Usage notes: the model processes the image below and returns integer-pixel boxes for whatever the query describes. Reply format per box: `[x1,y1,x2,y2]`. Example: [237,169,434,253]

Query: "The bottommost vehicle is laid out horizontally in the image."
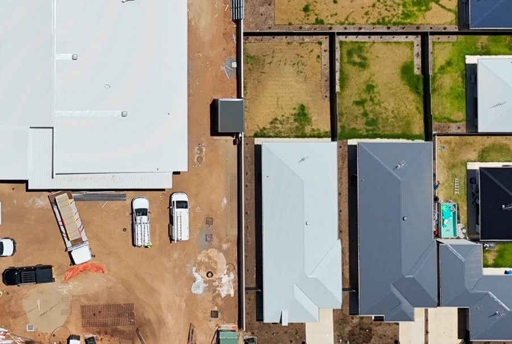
[3,263,56,288]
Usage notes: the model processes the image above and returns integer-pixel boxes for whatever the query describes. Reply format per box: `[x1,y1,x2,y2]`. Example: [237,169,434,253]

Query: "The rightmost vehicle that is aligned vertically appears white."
[169,192,192,246]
